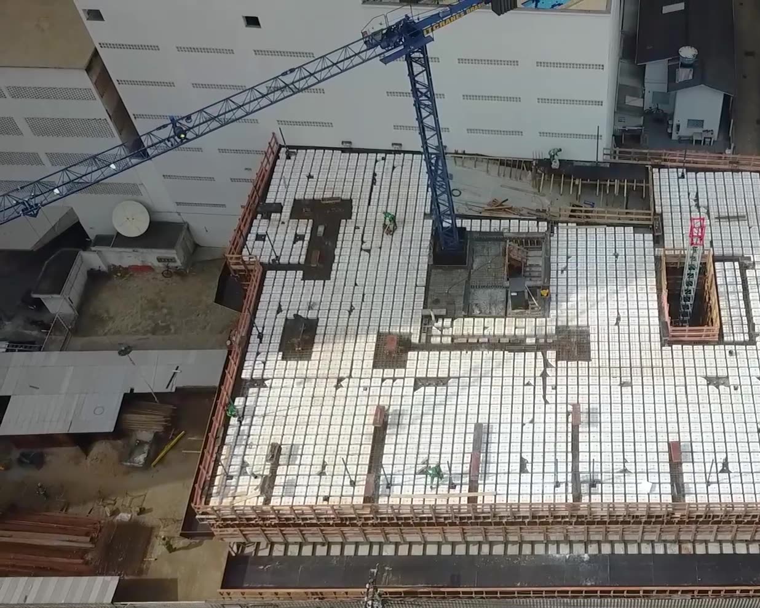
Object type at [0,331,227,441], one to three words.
shed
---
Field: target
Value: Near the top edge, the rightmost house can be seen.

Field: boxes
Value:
[632,0,735,141]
